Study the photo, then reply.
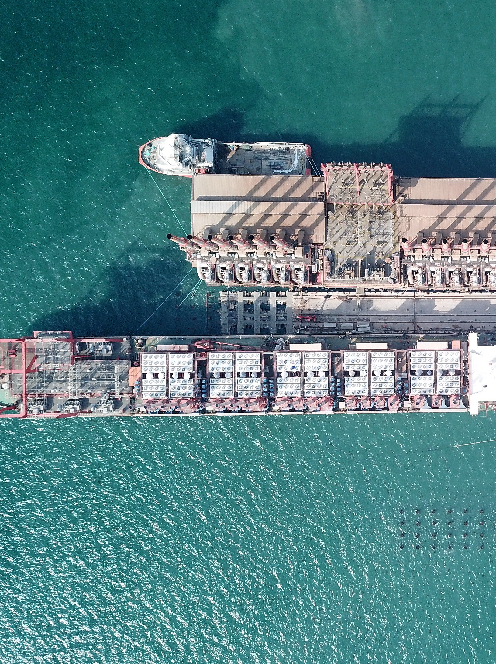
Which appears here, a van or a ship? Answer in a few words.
ship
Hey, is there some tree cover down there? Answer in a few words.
No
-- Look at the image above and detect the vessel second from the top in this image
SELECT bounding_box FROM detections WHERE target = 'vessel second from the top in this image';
[165,159,496,311]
